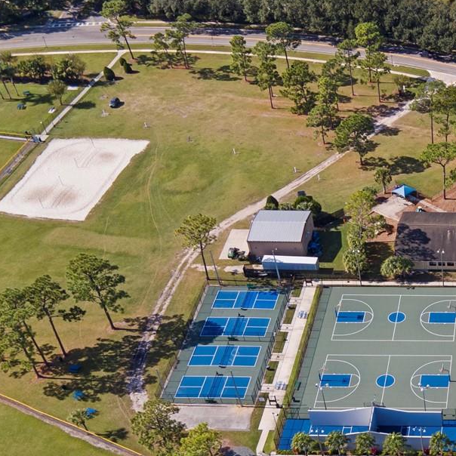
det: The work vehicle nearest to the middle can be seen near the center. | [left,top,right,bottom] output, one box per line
[225,245,240,258]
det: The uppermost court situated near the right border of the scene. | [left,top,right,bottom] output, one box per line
[324,295,456,341]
